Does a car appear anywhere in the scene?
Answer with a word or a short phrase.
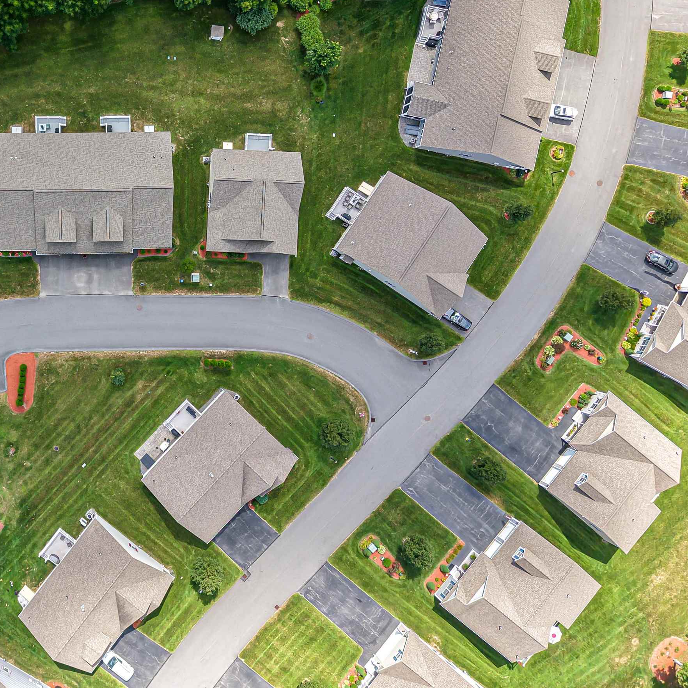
Yes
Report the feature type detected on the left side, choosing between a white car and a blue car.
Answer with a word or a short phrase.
white car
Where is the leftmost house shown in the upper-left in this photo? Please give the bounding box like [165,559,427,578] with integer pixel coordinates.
[0,116,173,256]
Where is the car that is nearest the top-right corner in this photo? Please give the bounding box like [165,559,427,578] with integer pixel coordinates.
[550,103,580,122]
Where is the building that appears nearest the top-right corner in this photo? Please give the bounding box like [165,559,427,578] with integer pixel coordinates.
[400,0,570,171]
